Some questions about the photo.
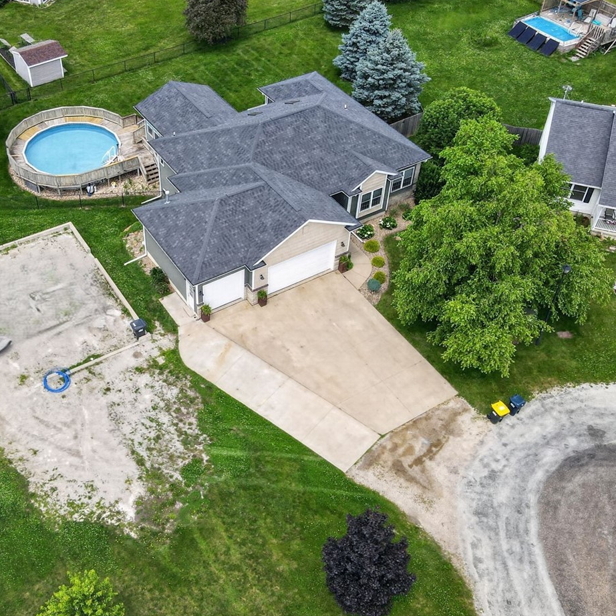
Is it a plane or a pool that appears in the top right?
pool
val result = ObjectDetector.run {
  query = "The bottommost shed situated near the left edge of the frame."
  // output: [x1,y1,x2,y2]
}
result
[11,41,73,87]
